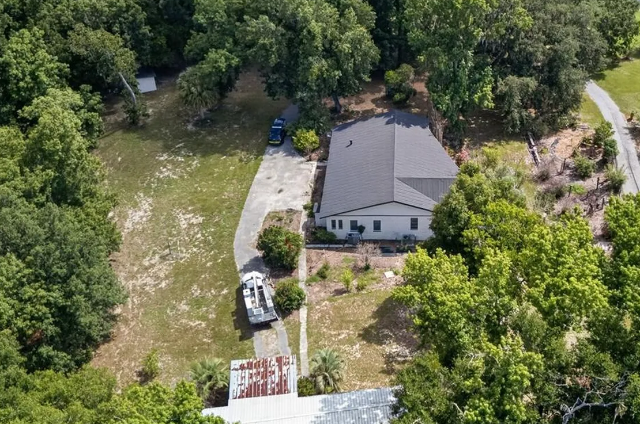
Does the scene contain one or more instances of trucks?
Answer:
Yes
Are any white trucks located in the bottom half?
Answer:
Yes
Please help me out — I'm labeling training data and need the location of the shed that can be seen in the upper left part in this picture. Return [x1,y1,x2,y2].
[135,71,159,94]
